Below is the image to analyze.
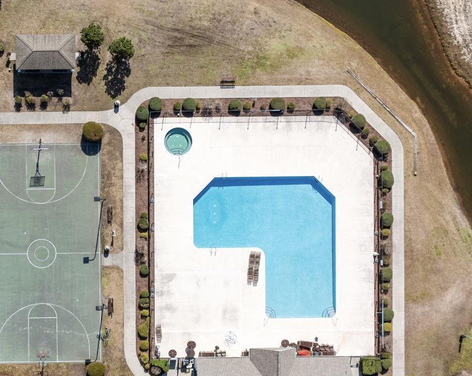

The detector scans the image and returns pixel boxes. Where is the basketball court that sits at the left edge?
[0,144,102,364]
